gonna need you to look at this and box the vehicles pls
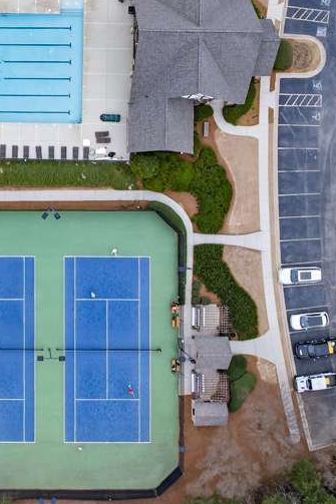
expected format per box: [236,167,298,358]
[293,372,336,393]
[295,338,336,360]
[279,267,322,286]
[289,312,329,331]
